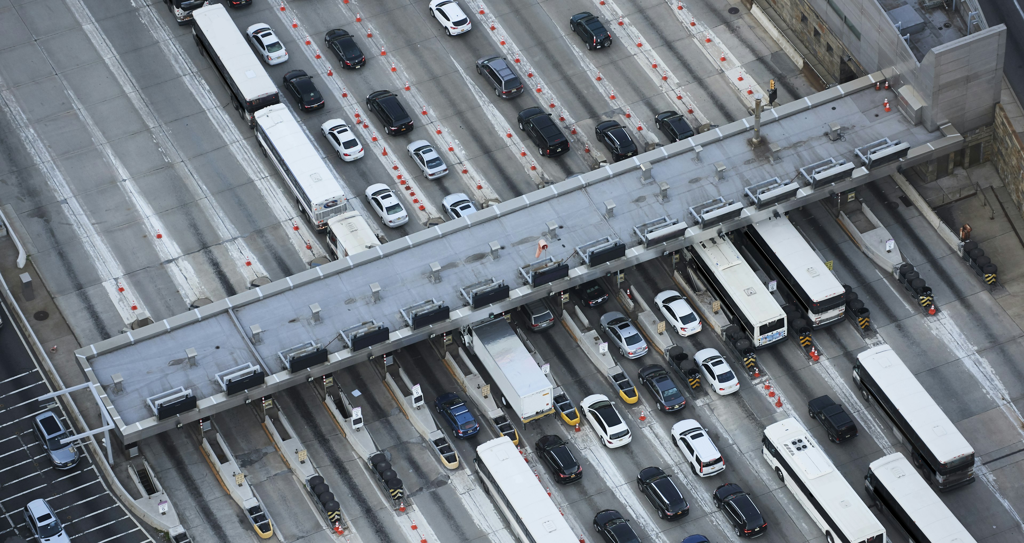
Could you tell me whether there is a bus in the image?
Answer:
Yes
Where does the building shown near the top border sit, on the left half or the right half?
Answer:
right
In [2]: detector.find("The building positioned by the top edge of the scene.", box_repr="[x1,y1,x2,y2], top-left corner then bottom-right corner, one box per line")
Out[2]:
[766,0,1009,184]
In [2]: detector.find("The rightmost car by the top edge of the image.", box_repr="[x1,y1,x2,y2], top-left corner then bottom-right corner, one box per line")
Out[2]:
[571,11,613,54]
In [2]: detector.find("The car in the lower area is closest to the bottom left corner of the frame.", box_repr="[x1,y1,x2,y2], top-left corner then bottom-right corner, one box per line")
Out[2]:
[23,500,71,543]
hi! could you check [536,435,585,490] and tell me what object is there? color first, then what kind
black car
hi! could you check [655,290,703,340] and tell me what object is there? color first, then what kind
white car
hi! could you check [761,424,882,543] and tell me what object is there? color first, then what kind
white bus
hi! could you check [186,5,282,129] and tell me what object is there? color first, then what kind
white bus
